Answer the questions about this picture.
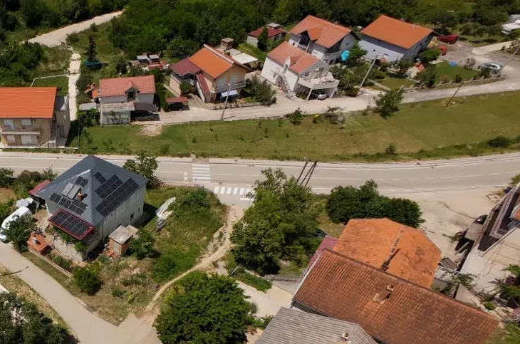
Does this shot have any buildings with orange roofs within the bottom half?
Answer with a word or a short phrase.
Yes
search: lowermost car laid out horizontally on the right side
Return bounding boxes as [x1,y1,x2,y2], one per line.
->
[307,88,333,100]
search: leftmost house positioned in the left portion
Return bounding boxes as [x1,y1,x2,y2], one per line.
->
[0,88,70,150]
